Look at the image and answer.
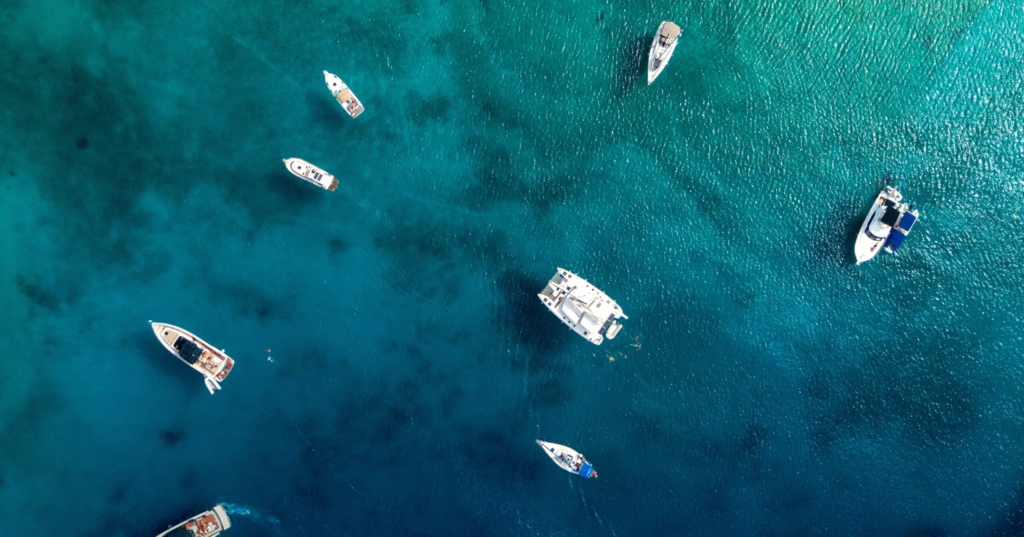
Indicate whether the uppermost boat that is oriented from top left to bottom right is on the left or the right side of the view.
left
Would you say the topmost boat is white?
Yes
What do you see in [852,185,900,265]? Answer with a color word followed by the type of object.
white boat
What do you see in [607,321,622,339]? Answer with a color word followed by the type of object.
white boat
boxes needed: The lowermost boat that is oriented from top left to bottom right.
[536,440,598,478]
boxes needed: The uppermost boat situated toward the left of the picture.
[323,71,365,118]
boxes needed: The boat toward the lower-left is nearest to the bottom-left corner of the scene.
[158,504,231,537]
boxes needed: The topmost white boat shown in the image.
[647,21,682,85]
